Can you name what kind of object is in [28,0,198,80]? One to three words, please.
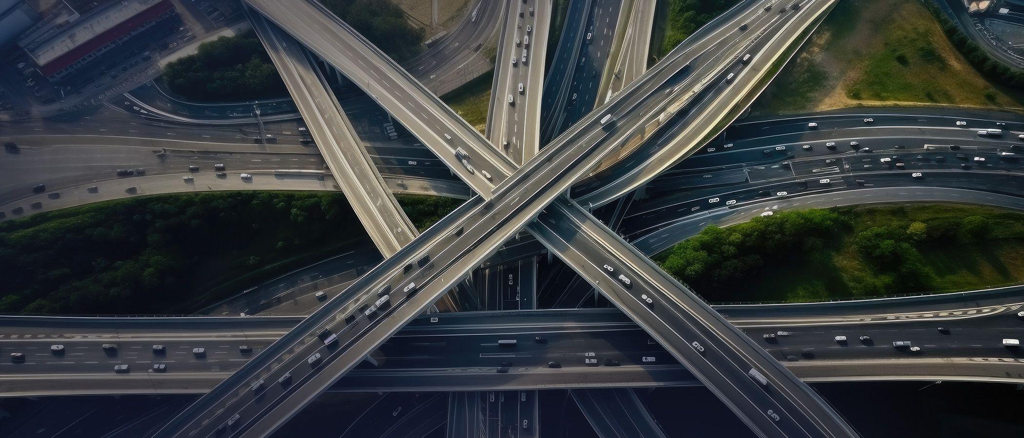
building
